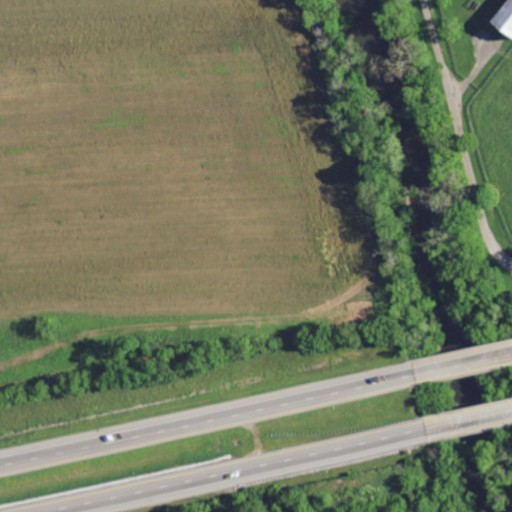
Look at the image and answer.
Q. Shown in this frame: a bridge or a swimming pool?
bridge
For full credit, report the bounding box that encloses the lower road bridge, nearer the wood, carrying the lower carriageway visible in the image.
[421,397,512,447]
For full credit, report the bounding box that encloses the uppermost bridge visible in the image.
[409,339,512,390]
